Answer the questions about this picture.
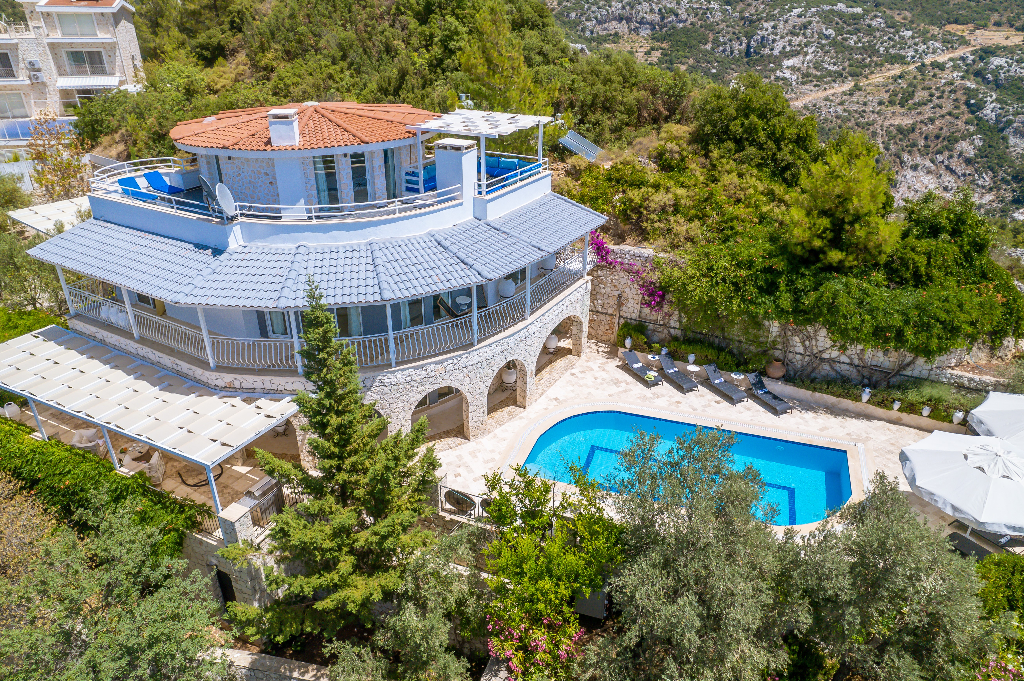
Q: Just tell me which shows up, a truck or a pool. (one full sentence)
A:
It is a pool that can be seen here.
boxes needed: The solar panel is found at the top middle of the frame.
[557,130,603,201]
